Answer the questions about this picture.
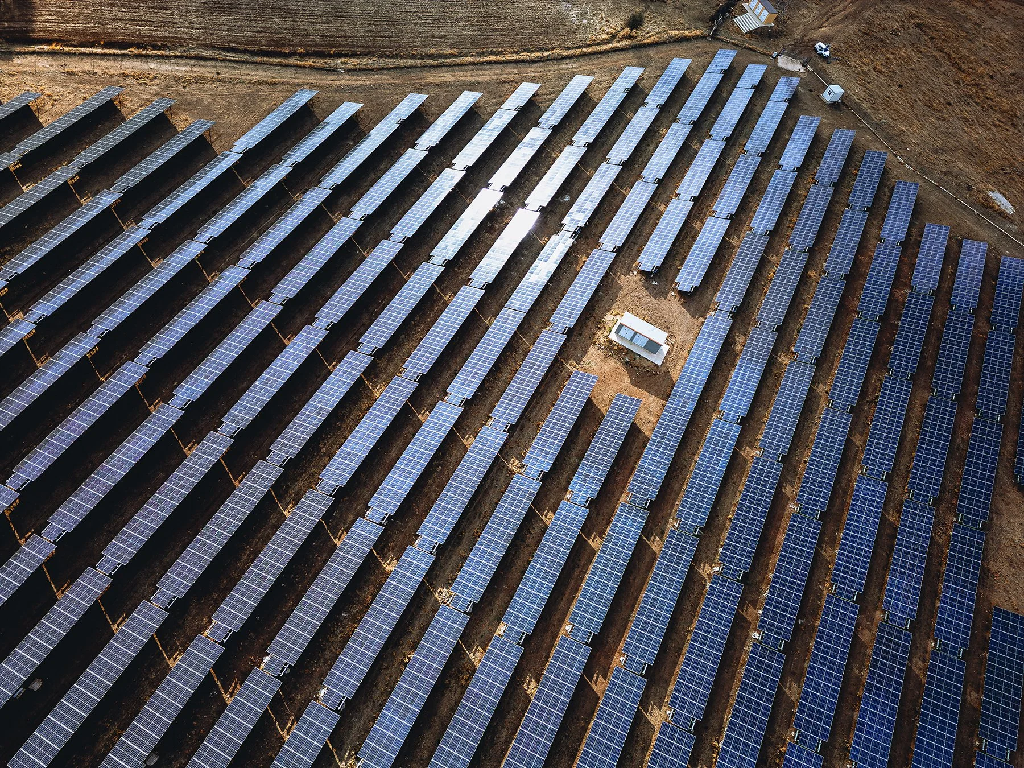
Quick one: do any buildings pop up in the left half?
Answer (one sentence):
No, no building can be made out in the left half.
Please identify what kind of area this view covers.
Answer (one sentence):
It's a solar farm.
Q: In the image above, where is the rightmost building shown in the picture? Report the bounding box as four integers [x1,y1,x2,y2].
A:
[820,84,850,104]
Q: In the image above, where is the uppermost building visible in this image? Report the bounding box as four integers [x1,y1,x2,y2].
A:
[741,0,781,30]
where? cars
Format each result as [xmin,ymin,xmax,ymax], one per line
[815,42,832,57]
